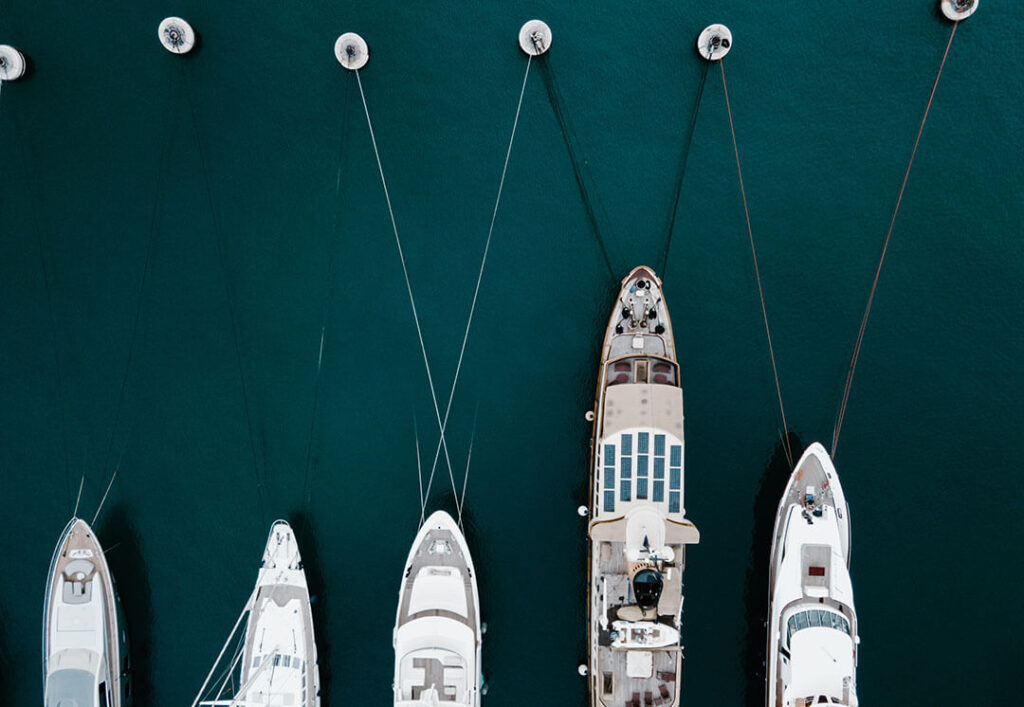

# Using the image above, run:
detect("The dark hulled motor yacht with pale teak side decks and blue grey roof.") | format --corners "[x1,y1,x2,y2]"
[41,516,134,707]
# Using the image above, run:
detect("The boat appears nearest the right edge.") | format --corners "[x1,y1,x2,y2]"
[762,440,863,707]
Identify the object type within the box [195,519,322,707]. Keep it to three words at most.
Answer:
boat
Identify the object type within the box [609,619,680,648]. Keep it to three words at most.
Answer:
boat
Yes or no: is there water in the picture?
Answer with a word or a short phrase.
Yes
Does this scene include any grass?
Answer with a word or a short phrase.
No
